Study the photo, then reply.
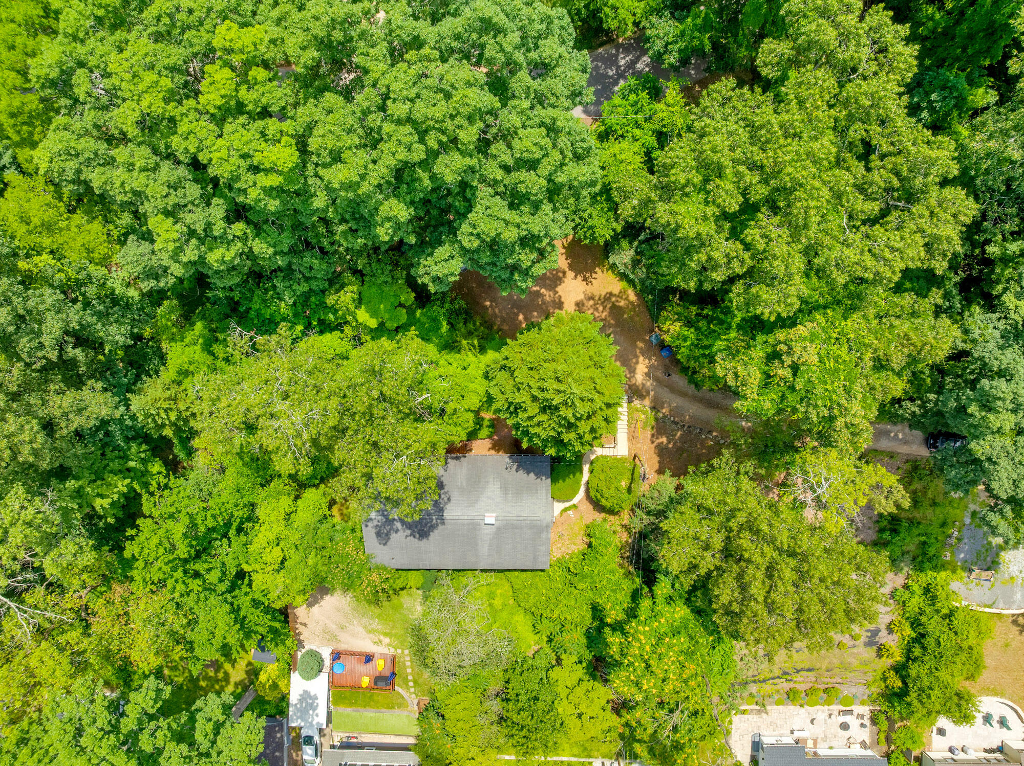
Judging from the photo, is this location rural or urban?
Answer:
rural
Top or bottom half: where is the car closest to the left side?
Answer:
bottom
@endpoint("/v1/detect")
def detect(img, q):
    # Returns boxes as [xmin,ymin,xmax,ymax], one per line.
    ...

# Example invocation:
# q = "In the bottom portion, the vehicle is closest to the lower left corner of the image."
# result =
[298,727,323,766]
